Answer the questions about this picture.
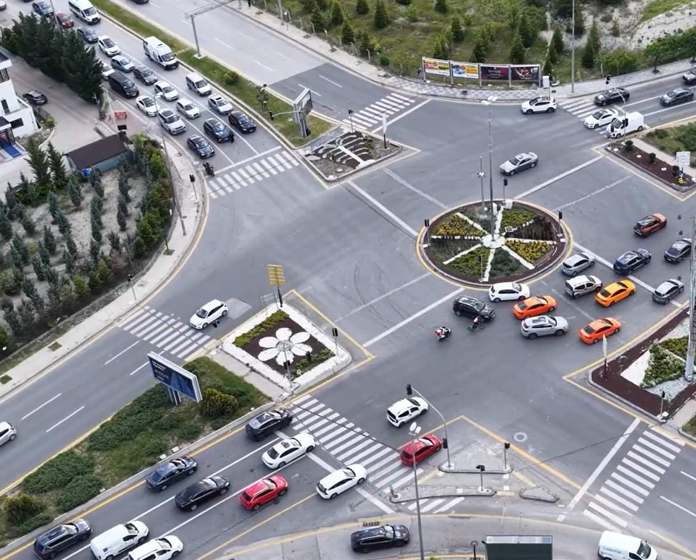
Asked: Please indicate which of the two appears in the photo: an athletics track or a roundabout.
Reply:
roundabout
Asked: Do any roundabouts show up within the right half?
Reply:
Yes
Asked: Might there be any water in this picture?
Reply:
No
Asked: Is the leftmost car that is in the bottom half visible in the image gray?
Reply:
Yes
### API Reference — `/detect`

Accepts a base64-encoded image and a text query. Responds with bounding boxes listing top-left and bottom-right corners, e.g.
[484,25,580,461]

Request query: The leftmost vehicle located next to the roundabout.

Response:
[451,294,496,322]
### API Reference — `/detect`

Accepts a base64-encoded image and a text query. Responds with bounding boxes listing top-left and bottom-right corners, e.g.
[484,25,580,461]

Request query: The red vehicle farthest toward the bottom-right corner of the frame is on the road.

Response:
[577,319,624,344]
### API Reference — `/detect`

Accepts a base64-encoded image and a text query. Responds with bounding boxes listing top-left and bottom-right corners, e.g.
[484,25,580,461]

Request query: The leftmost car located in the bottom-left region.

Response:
[0,424,21,449]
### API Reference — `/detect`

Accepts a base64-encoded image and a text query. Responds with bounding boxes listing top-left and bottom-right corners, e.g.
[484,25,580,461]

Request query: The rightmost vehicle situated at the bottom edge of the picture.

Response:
[596,529,659,560]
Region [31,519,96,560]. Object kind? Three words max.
car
